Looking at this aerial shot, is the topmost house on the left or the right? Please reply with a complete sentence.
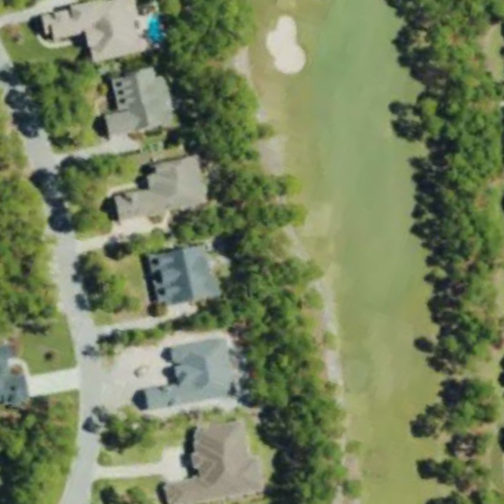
It is on the left.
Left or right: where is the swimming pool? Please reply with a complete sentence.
It is on the left.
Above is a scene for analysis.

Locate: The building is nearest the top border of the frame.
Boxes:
[40,0,149,63]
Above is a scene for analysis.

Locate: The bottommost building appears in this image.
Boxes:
[169,420,269,504]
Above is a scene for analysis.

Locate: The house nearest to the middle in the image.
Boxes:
[149,246,222,305]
